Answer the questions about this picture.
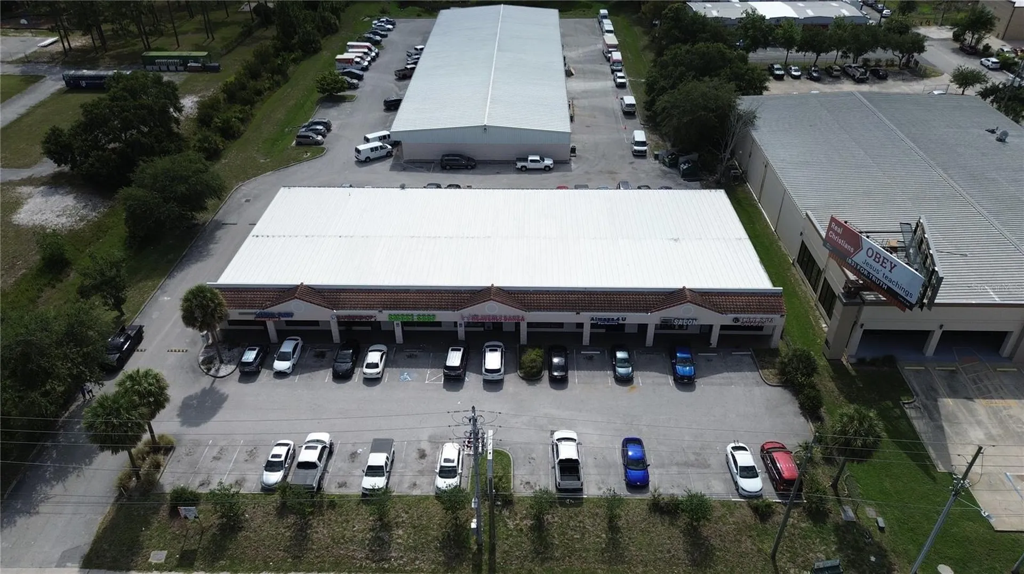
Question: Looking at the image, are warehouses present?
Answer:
Yes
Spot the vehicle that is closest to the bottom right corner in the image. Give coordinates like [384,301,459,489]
[760,445,801,496]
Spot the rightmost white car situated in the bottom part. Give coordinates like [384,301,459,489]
[725,445,762,501]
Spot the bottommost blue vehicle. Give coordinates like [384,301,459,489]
[620,438,651,492]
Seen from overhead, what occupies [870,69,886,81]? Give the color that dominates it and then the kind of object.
black vehicle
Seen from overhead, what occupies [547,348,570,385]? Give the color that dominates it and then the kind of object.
black car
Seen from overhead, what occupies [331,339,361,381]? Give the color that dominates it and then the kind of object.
black car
